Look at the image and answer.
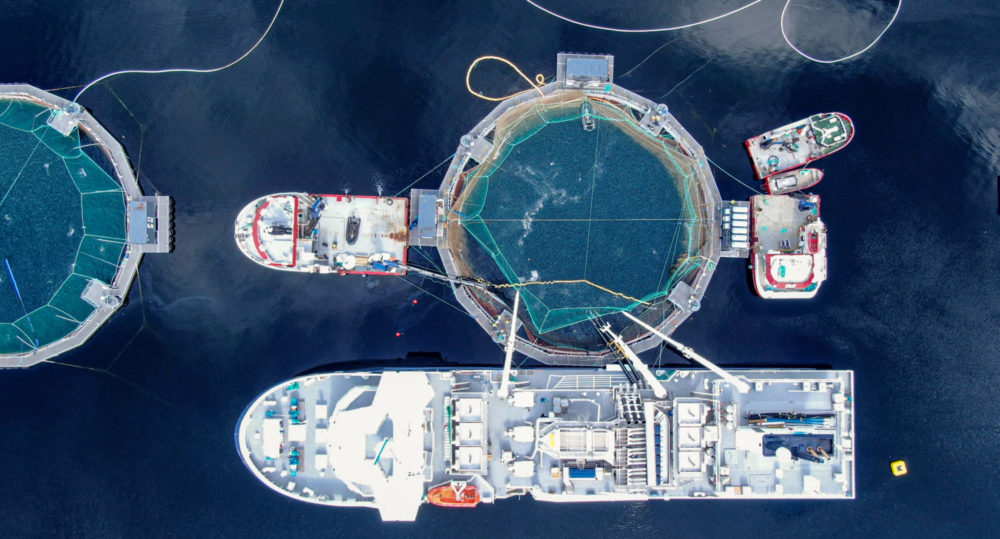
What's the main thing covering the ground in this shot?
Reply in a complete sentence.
What you mostly see from above here is water.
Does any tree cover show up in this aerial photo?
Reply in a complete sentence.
No, no tree cover is visible.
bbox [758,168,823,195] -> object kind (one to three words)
boat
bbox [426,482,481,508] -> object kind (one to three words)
boat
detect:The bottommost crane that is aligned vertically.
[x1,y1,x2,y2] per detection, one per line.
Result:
[495,288,519,401]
